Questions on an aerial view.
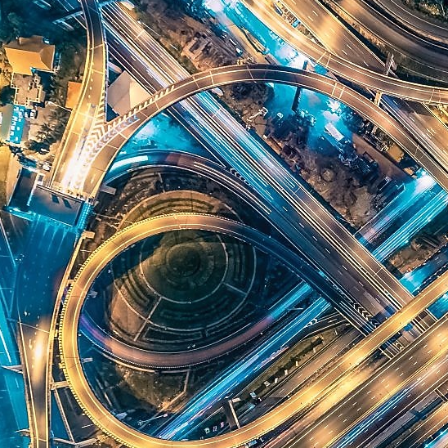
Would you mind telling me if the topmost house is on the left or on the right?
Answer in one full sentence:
You can find the topmost house on the left side of the picture.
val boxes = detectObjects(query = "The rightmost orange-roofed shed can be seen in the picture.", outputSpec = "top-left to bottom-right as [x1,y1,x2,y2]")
[64,81,82,108]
